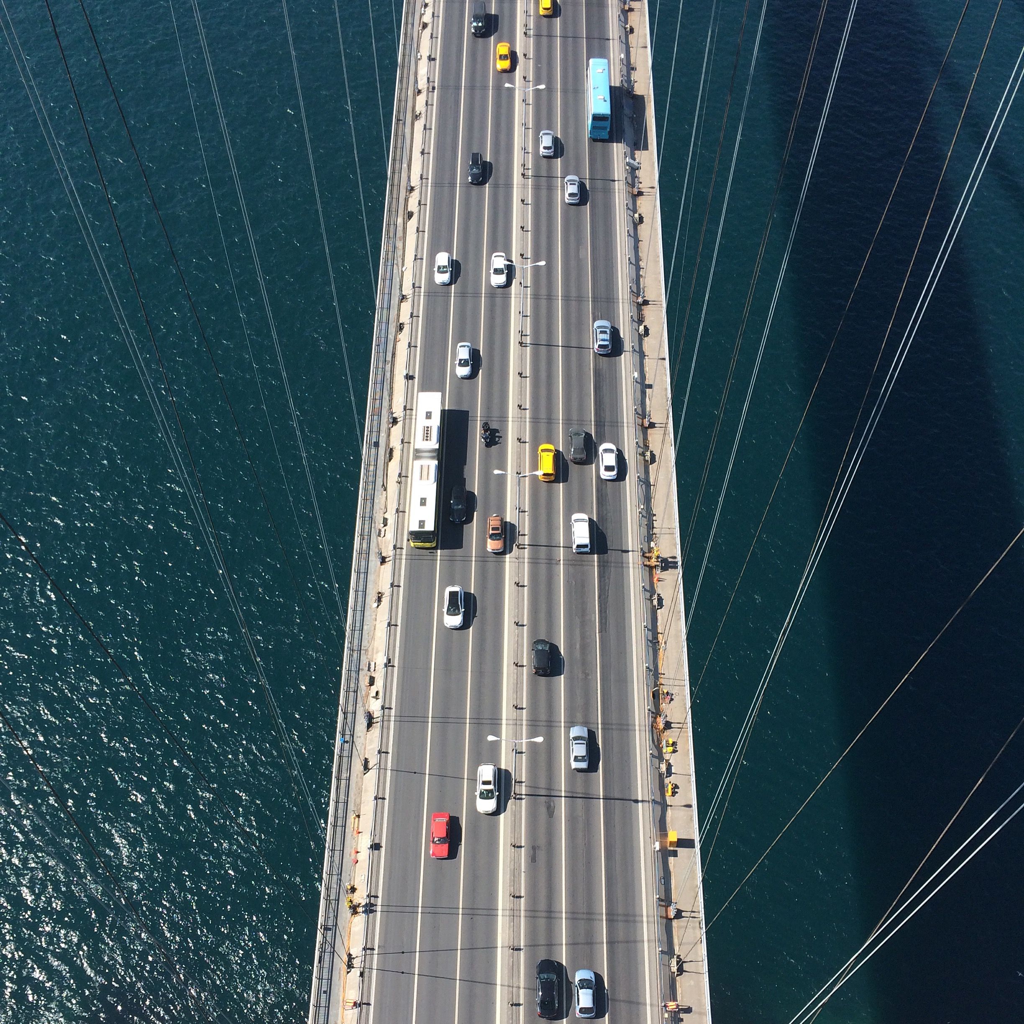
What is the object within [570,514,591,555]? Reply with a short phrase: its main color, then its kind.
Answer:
white vehicle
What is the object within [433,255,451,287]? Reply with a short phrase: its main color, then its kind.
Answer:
white car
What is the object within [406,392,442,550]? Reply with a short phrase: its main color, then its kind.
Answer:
white bus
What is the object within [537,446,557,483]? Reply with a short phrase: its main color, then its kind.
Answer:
yellow car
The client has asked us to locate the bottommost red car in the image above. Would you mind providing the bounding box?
[428,813,451,860]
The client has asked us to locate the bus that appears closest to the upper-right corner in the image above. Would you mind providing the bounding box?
[587,58,611,140]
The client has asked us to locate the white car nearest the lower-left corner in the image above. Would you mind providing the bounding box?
[474,762,498,815]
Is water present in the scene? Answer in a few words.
Yes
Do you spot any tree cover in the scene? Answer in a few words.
No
